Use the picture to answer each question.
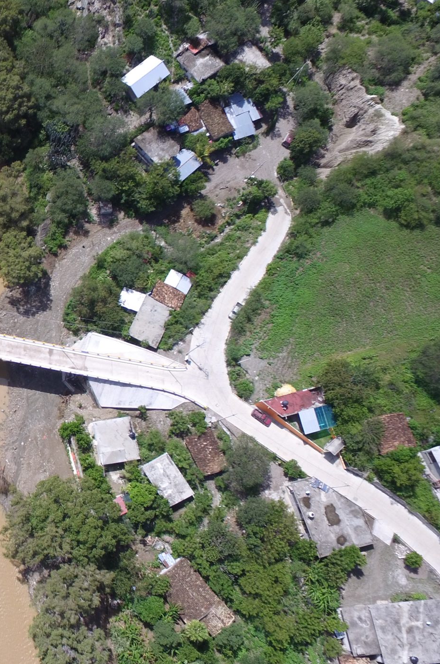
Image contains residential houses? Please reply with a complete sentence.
Yes, this view includes a residential house.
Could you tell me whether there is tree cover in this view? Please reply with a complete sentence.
Yes, tree cover can be seen from above here.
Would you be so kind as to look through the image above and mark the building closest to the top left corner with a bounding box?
[119,56,169,107]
